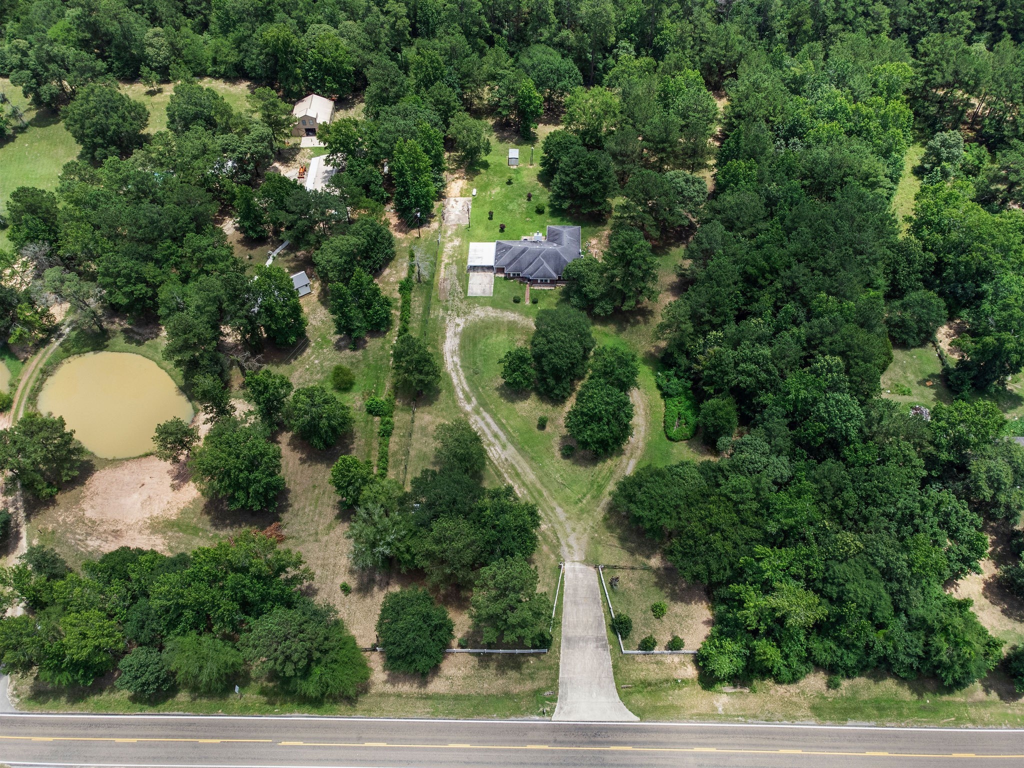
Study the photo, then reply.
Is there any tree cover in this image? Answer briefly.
Yes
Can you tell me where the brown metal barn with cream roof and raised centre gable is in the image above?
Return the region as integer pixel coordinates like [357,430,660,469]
[289,92,334,137]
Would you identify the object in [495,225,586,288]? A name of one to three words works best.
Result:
house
